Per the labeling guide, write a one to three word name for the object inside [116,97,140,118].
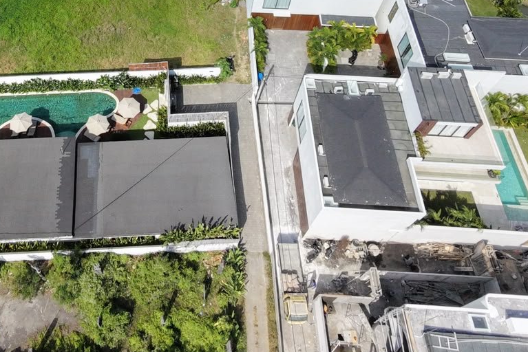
umbrella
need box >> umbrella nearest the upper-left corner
[9,113,32,134]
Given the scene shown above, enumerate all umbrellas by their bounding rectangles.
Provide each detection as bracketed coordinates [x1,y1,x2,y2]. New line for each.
[86,115,110,137]
[9,113,32,134]
[116,97,140,118]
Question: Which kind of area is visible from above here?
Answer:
residential area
